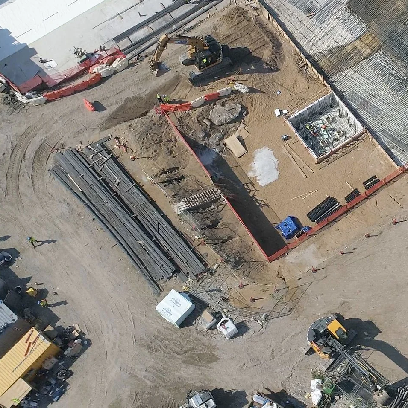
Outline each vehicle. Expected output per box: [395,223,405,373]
[302,310,397,408]
[149,26,233,79]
